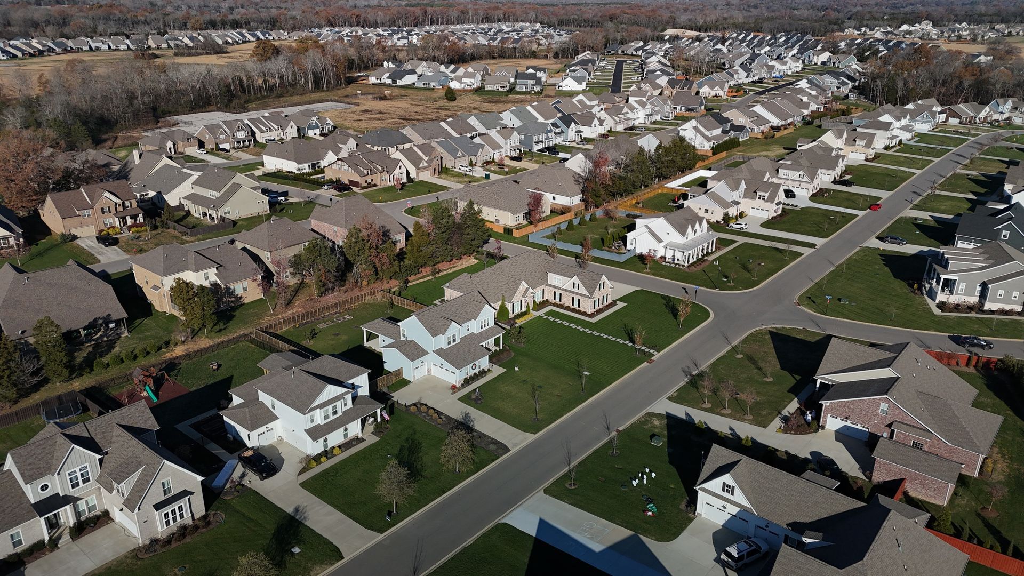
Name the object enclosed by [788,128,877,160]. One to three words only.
house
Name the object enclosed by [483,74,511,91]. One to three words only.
house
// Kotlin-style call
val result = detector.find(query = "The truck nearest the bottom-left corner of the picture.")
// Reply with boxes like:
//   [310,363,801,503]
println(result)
[238,446,278,475]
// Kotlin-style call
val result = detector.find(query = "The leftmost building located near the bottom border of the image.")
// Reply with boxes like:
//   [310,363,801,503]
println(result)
[0,393,207,556]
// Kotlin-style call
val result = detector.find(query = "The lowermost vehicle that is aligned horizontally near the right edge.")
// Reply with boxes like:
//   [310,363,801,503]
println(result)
[962,337,993,350]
